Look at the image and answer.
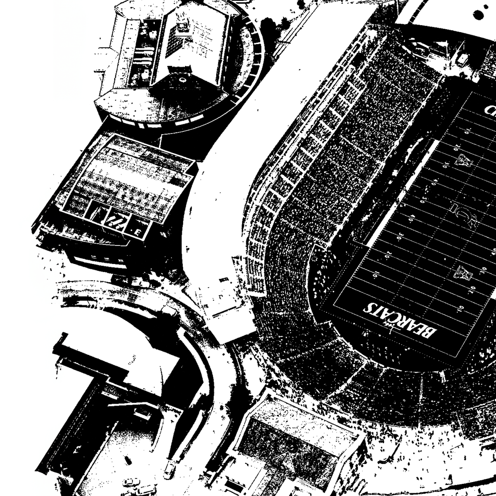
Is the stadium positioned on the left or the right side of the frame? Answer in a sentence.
The stadium appears in the right half of the scene.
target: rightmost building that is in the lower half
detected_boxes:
[221,387,367,496]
